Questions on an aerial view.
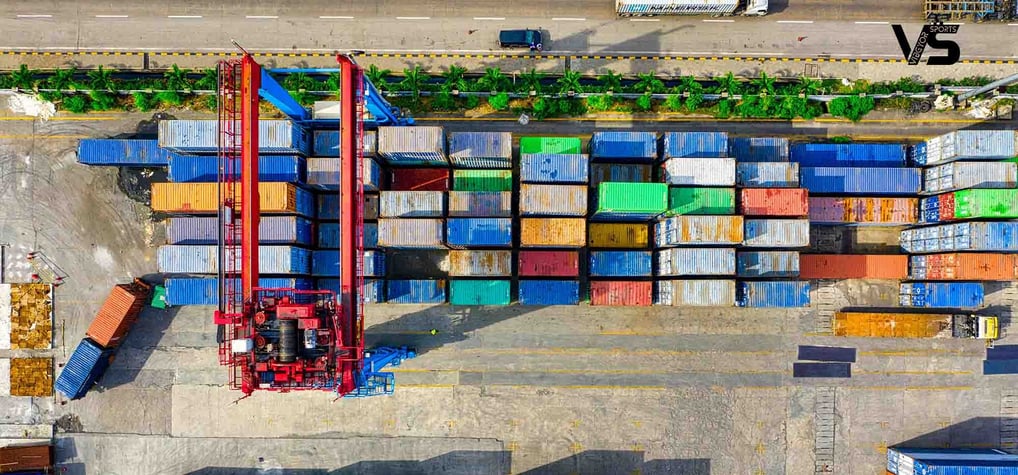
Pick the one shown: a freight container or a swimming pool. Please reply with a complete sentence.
Looking from above, you can make out a freight container.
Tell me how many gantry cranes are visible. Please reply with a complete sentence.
Only 1 gantry crane is visible.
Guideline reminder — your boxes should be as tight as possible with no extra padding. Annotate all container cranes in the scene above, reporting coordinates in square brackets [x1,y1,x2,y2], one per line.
[213,35,424,403]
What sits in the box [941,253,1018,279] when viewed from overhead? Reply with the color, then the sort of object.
orange shipping container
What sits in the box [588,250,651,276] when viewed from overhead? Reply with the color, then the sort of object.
blue shipping container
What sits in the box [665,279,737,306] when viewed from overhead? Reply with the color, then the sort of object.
white shipping container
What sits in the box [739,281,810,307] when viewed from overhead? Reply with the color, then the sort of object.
blue shipping container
